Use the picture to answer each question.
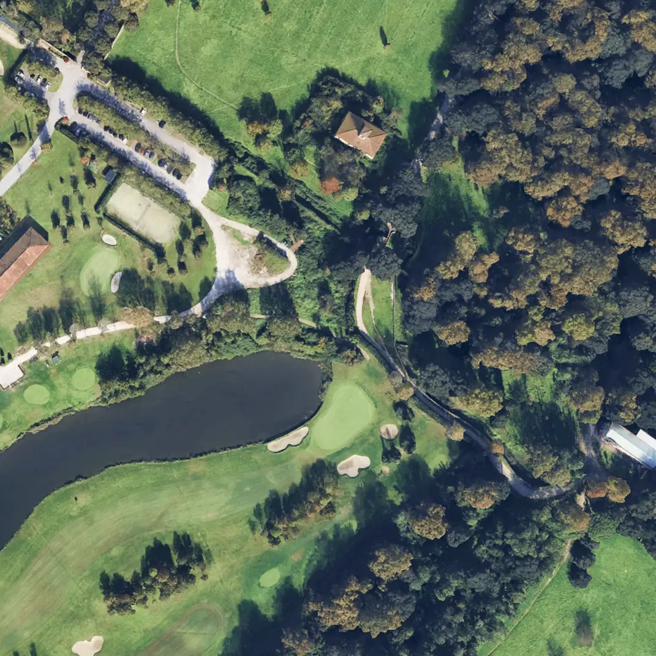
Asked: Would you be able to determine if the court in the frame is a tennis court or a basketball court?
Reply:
tennis court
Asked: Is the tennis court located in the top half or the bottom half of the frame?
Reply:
top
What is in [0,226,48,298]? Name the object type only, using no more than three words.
barn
